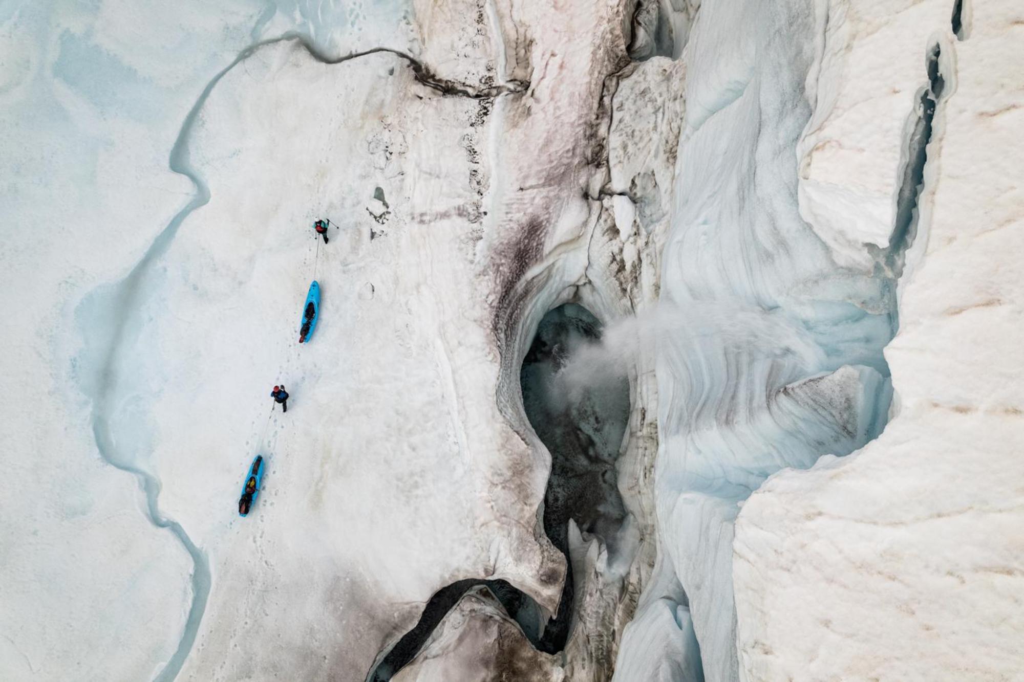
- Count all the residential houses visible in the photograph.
0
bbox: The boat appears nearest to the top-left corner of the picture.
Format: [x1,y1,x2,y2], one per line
[300,281,319,342]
